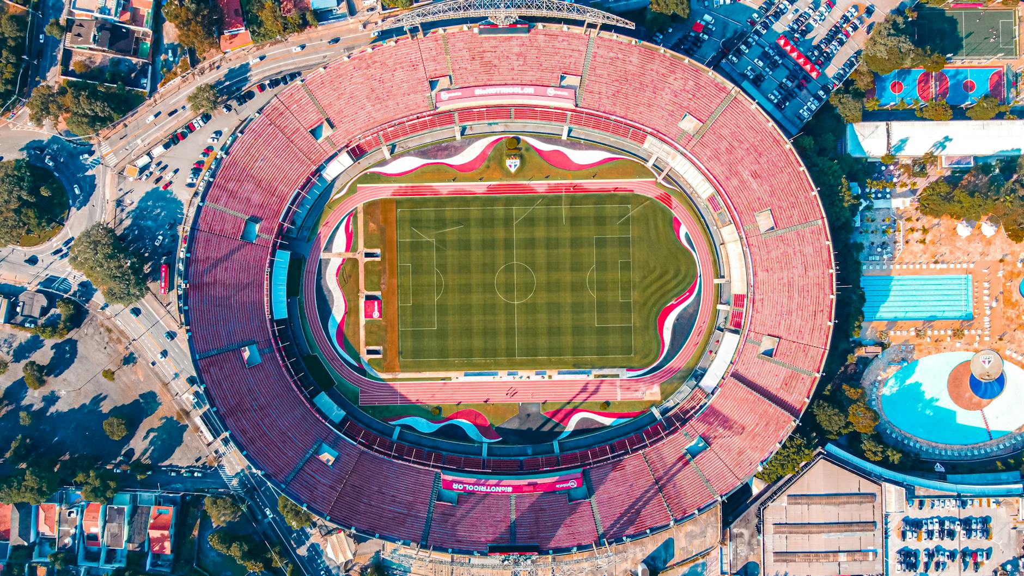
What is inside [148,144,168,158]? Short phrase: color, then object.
white vehicle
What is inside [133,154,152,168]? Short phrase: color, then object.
white vehicle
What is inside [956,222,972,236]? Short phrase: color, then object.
white umbrella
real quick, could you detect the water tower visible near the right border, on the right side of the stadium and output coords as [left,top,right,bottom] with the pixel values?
[970,349,1004,383]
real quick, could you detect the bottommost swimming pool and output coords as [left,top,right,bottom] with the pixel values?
[880,351,1024,446]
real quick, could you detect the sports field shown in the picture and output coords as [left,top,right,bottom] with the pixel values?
[397,193,698,372]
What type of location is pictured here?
sports ground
